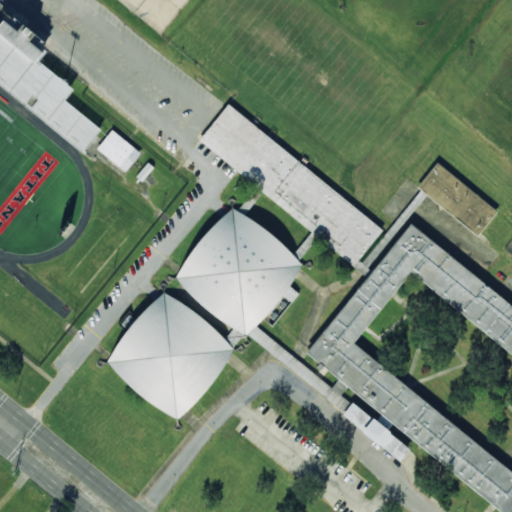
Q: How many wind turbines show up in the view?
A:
none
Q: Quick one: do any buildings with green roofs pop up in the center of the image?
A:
No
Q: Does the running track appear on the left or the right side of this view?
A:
left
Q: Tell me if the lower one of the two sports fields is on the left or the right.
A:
left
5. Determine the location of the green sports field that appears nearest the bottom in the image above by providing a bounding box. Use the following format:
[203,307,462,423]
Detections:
[0,100,84,254]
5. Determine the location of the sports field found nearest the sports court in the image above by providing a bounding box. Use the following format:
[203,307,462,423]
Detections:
[192,0,403,155]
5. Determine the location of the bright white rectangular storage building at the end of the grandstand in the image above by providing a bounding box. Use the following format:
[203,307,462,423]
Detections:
[98,130,140,172]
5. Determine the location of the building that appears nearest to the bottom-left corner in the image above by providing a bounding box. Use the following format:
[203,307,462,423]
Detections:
[100,286,242,426]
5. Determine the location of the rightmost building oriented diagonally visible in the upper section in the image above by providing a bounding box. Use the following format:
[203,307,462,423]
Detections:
[419,163,498,236]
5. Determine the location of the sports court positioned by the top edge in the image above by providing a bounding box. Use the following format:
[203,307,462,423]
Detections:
[116,0,189,34]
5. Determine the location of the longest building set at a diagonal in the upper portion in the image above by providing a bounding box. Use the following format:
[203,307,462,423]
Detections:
[200,105,382,266]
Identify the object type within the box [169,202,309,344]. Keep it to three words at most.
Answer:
building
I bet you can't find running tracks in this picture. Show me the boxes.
[0,86,94,264]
